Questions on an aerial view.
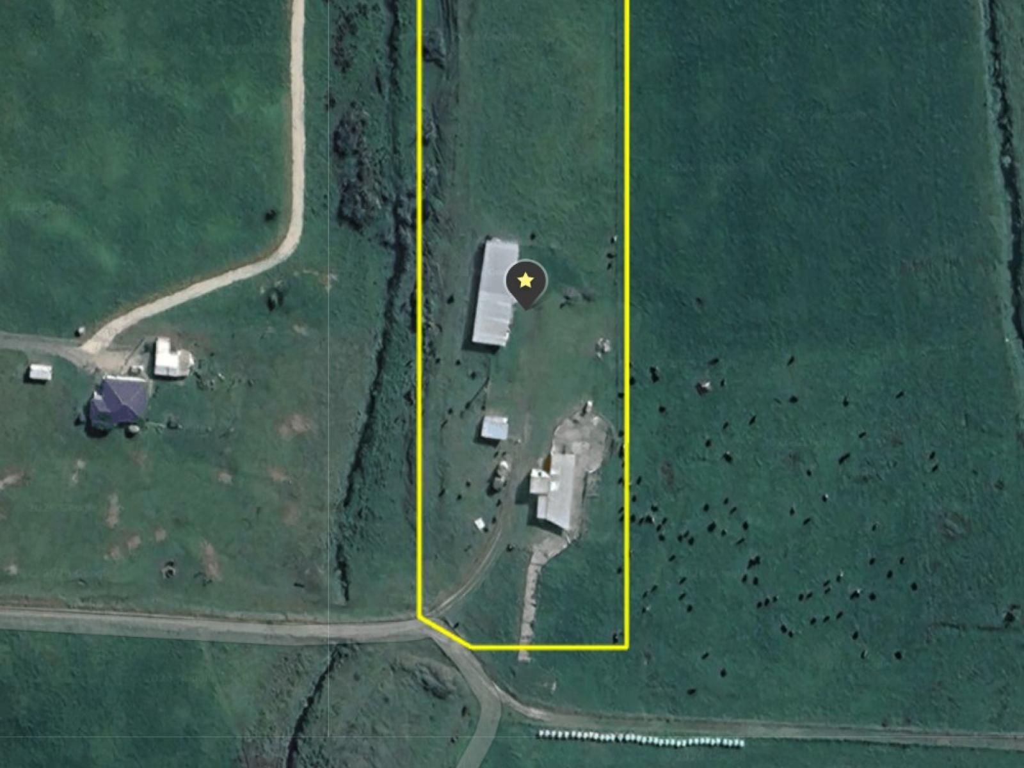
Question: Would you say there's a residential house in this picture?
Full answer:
Yes, you can see a residential house in this photo.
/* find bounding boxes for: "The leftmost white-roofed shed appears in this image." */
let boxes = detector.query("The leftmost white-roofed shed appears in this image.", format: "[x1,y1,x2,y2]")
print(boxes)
[28,364,51,380]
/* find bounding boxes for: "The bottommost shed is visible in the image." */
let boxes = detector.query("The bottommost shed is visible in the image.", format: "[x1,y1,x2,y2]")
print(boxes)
[530,454,576,530]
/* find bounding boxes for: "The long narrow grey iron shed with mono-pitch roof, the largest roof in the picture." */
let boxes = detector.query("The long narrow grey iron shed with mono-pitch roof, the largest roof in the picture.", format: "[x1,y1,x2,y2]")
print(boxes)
[472,240,519,346]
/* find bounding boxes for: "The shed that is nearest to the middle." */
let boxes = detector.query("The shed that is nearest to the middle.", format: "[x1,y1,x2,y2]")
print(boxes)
[481,416,508,440]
